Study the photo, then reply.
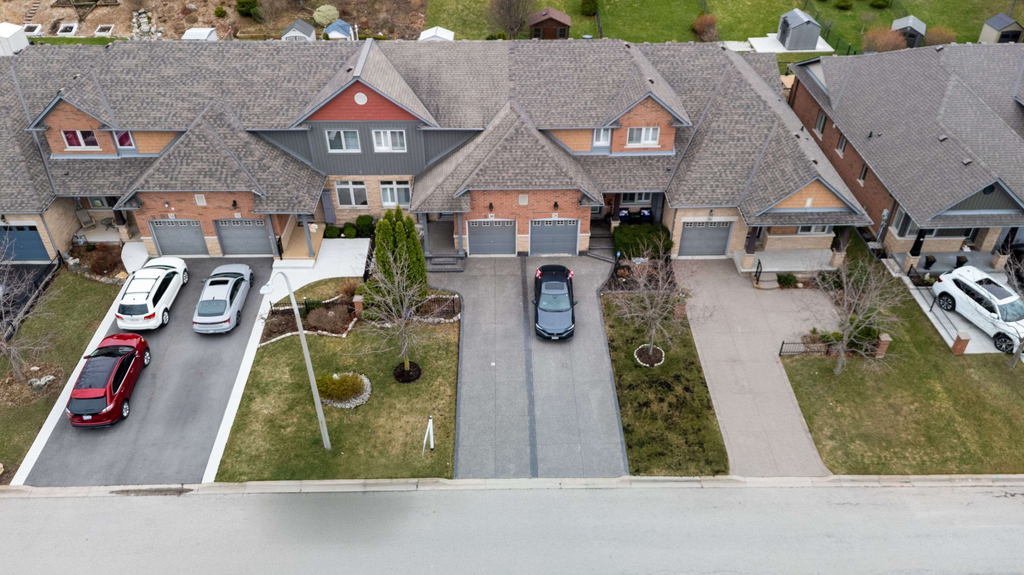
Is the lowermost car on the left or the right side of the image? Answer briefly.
left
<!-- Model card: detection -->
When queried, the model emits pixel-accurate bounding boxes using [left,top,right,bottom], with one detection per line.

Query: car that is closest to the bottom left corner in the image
[68,334,151,422]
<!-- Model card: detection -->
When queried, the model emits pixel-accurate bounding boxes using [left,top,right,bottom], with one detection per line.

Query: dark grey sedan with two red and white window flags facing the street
[530,265,580,339]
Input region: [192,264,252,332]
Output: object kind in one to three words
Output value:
car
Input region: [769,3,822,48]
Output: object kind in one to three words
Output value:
shed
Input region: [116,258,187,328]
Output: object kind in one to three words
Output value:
car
